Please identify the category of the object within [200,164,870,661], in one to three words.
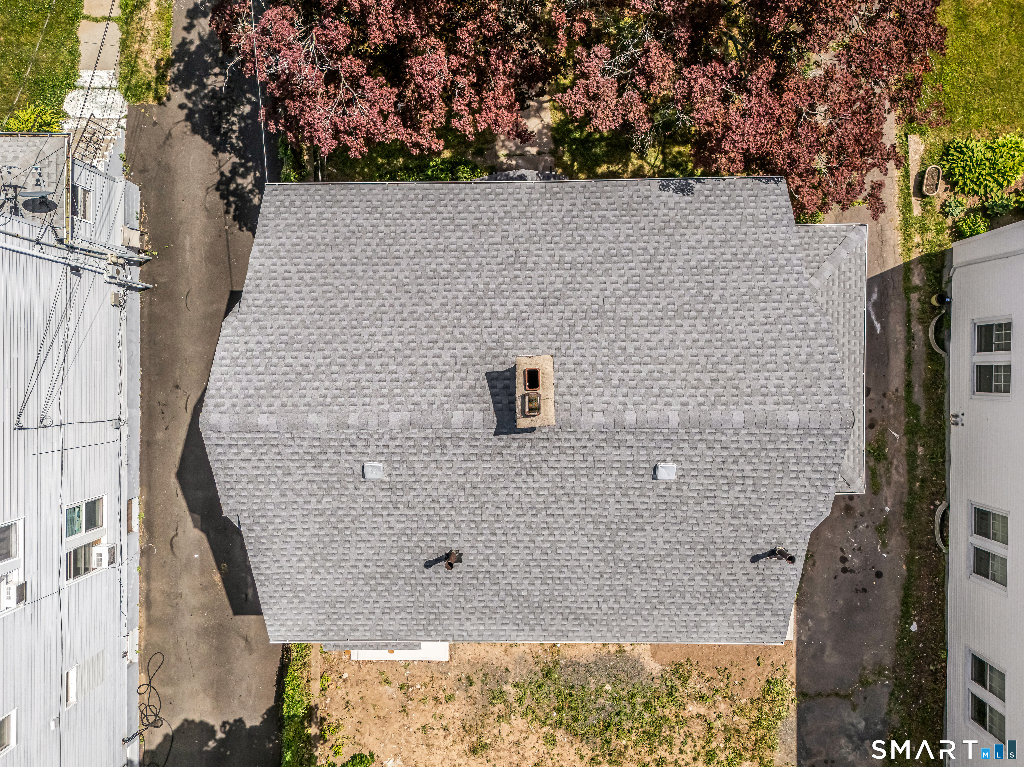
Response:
house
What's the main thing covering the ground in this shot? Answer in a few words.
buildings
